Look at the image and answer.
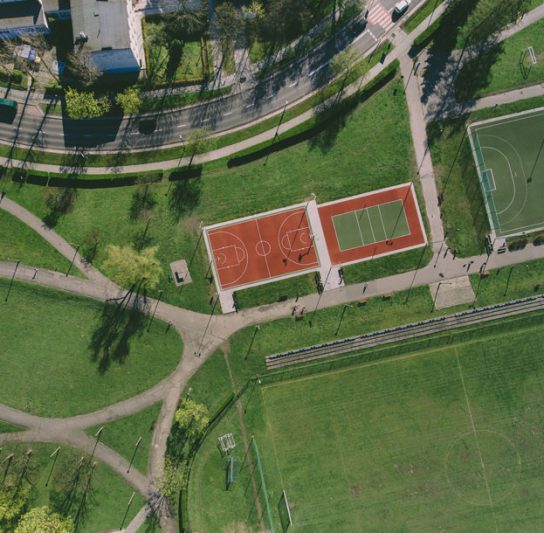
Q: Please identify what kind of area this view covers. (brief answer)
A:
sports ground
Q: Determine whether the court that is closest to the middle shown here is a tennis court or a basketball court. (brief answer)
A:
basketball court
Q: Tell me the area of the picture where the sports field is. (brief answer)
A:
bottom right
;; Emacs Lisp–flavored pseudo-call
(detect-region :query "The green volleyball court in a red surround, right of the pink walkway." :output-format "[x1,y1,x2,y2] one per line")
[316,182,429,266]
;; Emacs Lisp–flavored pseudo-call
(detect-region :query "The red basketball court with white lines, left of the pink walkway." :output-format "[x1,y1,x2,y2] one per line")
[202,201,321,296]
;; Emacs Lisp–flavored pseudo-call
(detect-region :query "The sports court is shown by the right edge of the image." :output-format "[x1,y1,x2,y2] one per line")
[469,108,544,240]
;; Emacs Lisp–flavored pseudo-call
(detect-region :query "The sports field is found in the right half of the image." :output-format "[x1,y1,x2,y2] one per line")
[251,322,544,533]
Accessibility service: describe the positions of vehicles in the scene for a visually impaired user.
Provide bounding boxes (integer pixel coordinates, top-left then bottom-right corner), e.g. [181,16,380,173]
[0,96,23,111]
[394,0,414,15]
